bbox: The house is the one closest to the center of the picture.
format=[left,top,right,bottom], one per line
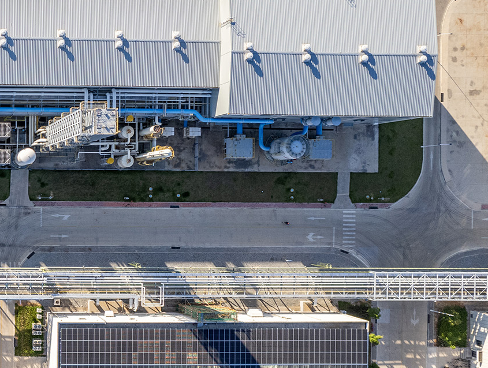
[216,123,256,158]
